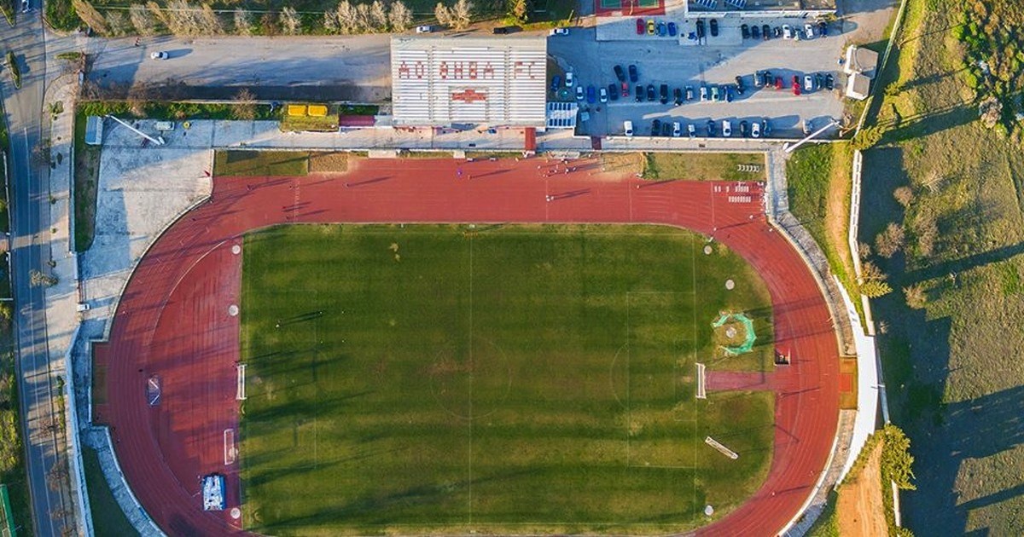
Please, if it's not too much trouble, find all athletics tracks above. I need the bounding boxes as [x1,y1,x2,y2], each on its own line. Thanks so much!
[91,158,841,537]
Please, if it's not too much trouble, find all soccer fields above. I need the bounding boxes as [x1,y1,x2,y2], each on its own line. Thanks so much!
[240,224,774,534]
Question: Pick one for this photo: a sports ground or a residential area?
sports ground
